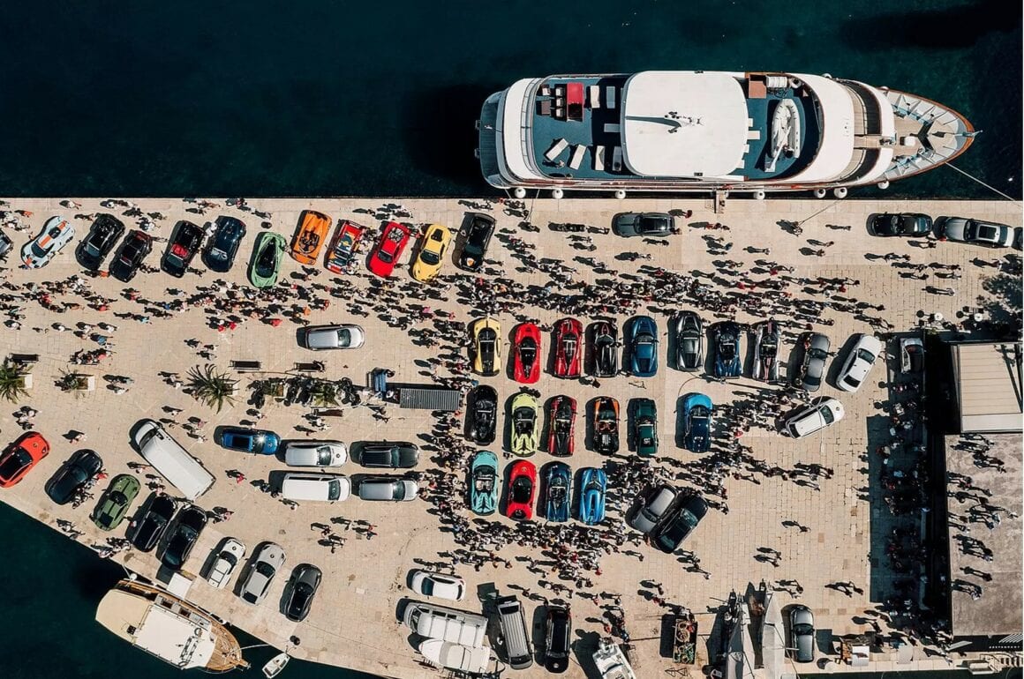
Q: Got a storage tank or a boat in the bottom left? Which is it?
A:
boat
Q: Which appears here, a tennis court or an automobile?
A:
automobile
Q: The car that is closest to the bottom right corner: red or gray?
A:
gray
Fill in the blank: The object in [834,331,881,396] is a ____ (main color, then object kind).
white car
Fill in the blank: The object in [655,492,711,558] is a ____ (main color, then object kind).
black car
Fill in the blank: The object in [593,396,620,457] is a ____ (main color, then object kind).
black car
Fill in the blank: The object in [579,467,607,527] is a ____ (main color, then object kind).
blue car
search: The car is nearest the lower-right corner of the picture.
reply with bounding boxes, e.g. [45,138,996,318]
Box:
[788,604,818,664]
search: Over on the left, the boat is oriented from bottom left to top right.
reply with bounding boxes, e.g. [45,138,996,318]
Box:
[258,655,288,679]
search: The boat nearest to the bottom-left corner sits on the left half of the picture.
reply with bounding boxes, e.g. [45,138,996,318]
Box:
[95,576,249,672]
